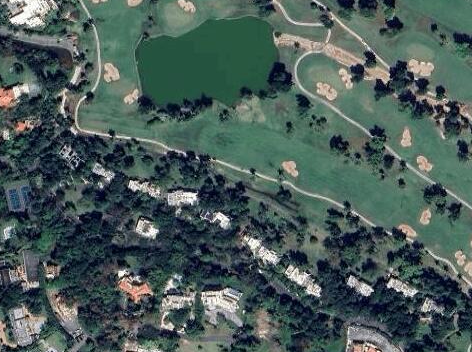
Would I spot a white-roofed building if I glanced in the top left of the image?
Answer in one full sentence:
Yes, a white-roofed building can be seen in the top left of the image.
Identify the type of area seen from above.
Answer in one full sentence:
The picture captures a golf course.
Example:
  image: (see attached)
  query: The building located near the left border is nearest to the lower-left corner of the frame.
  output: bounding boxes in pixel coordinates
[12,309,42,346]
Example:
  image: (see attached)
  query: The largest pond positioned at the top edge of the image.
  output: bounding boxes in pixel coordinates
[135,16,279,105]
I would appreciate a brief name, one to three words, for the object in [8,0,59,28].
building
